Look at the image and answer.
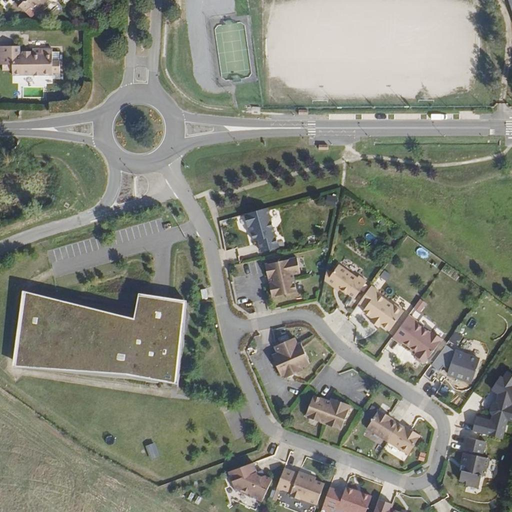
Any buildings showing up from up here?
Yes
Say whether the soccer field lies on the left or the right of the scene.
right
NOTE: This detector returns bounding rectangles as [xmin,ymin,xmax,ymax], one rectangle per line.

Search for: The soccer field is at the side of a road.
[261,0,484,105]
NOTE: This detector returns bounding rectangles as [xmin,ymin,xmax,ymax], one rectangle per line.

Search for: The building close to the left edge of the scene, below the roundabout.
[12,291,186,384]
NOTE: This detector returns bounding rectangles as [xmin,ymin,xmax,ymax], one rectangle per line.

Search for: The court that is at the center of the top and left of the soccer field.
[210,16,258,88]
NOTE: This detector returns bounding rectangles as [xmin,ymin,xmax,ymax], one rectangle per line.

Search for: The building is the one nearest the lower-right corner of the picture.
[462,438,490,486]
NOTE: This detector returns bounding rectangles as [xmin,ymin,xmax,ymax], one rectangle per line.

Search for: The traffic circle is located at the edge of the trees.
[90,74,190,178]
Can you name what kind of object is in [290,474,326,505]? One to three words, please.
house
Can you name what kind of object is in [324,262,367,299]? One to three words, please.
house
